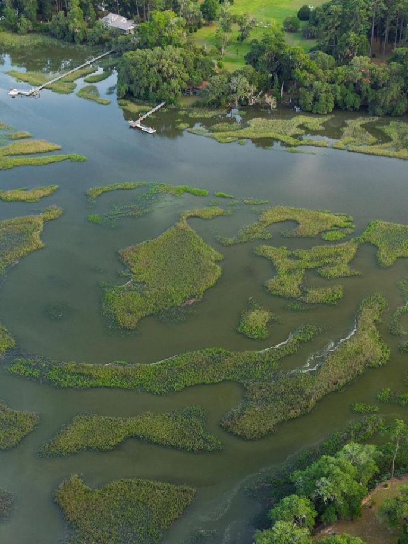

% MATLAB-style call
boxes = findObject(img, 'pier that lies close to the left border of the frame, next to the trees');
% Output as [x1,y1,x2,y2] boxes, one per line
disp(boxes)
[16,49,119,97]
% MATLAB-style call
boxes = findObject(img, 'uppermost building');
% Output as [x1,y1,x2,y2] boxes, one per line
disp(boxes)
[97,19,139,40]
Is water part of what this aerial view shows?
Yes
